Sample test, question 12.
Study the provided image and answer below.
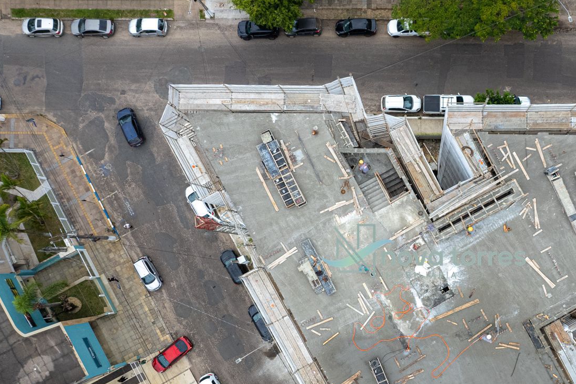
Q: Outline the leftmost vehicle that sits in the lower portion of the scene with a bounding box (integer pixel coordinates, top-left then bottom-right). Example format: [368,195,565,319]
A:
[133,254,165,291]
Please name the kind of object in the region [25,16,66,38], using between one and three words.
car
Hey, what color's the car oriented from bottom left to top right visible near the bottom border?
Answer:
red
